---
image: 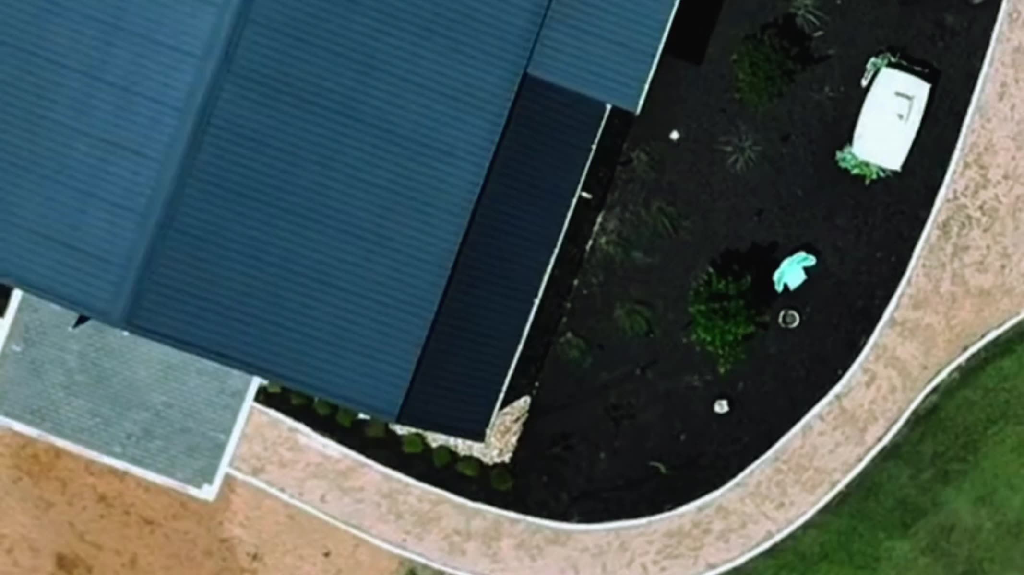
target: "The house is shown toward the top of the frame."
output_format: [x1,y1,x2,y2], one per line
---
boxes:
[0,0,681,440]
